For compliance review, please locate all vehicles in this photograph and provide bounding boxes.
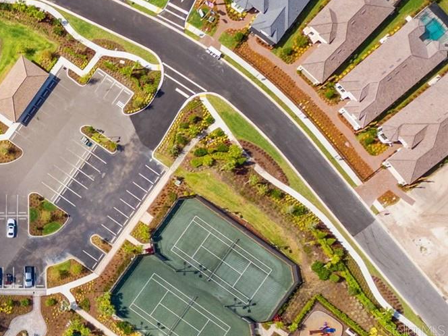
[79,136,92,147]
[25,265,34,286]
[203,45,220,58]
[6,218,16,238]
[6,272,13,285]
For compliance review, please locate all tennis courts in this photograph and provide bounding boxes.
[153,196,301,321]
[113,254,255,336]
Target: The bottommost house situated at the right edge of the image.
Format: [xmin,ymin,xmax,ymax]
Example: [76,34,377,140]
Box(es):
[377,74,448,185]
